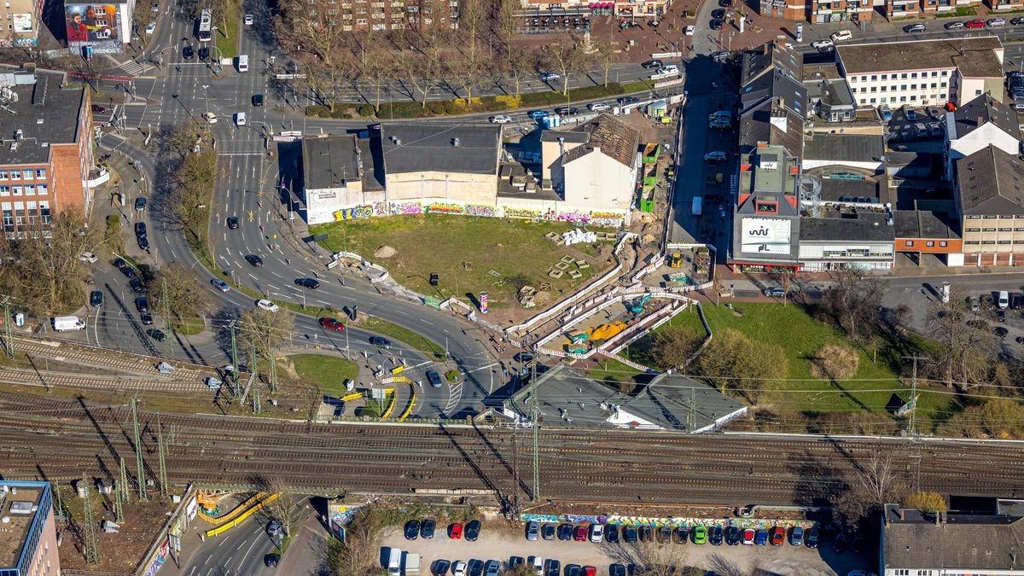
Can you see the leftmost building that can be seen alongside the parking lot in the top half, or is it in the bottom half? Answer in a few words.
bottom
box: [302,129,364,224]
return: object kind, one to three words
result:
building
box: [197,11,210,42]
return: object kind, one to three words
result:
vehicle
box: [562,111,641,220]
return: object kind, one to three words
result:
house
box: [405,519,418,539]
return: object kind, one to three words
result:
vehicle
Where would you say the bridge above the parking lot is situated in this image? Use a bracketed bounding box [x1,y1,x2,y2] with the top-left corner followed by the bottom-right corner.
[189,410,483,524]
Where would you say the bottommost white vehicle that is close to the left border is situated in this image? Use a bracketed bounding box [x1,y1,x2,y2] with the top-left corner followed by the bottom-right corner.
[51,316,86,333]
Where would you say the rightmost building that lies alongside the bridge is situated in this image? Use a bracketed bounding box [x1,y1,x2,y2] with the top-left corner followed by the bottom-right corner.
[512,363,746,436]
